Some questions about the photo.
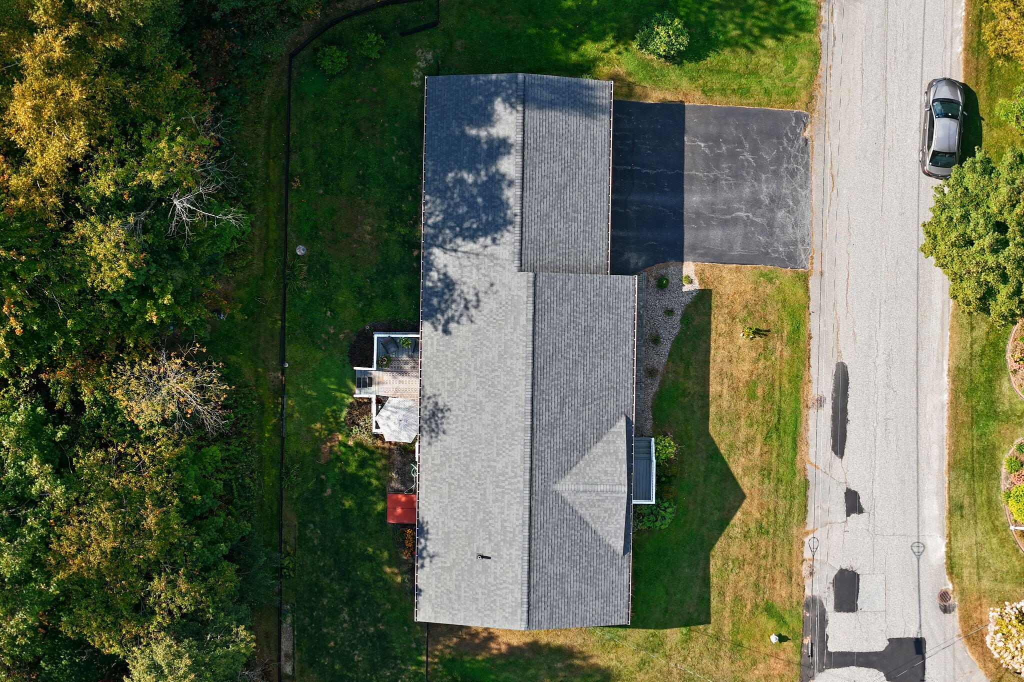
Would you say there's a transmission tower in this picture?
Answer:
No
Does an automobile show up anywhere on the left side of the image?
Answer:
No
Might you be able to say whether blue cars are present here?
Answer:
No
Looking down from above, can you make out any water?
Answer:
No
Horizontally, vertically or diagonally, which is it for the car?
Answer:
vertically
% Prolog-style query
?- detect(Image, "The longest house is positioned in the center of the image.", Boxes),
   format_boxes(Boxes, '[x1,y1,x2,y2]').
[415,72,636,631]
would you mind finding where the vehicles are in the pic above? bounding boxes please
[922,77,971,179]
